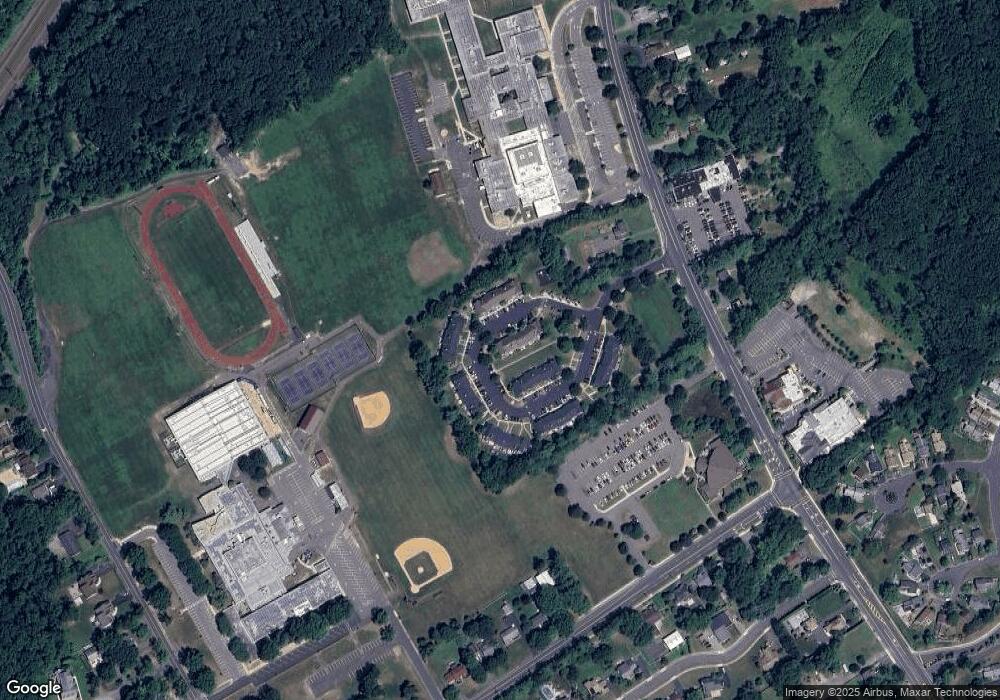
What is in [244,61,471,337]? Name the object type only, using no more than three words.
sports field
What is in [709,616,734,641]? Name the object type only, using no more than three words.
house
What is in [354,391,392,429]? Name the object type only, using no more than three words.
baseball field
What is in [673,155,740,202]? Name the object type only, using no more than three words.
building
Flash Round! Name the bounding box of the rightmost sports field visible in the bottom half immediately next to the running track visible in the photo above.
[326,341,635,616]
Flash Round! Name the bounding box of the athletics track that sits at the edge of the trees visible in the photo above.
[140,180,287,366]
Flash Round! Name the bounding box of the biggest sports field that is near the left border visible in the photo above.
[30,202,219,528]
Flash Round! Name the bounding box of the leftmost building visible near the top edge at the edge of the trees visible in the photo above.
[407,0,580,220]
